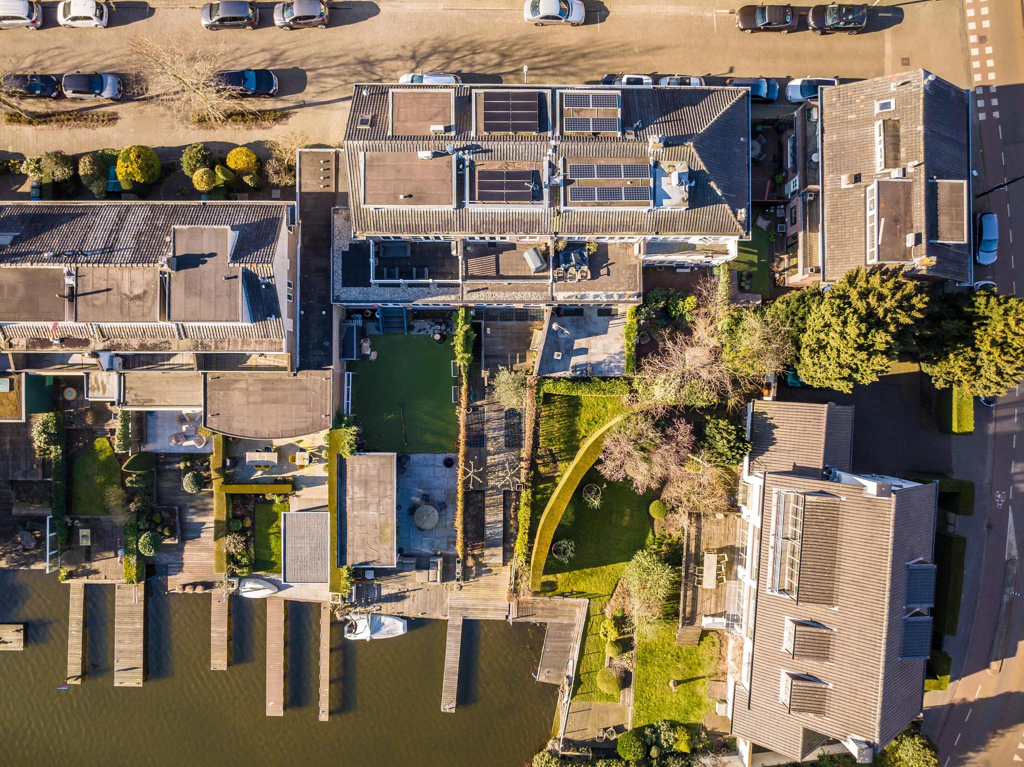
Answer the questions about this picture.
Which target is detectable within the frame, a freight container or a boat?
boat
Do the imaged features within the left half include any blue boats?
No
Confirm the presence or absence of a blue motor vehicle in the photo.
Yes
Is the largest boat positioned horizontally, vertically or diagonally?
horizontally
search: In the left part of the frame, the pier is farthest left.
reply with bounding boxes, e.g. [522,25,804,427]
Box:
[0,620,29,652]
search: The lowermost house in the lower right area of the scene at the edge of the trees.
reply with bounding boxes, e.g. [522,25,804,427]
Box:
[714,458,940,767]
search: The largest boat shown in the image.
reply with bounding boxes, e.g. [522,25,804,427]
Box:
[345,614,408,642]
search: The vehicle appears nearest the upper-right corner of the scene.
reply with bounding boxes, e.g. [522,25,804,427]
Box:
[804,5,866,39]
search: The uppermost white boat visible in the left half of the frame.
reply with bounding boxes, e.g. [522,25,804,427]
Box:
[238,578,280,599]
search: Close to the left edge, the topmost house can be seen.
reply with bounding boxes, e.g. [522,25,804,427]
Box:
[0,201,301,372]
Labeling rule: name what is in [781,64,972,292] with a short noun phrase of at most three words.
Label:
house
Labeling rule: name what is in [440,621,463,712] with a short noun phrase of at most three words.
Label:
pier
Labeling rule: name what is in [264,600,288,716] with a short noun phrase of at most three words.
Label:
pier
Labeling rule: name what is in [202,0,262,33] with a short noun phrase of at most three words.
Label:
car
